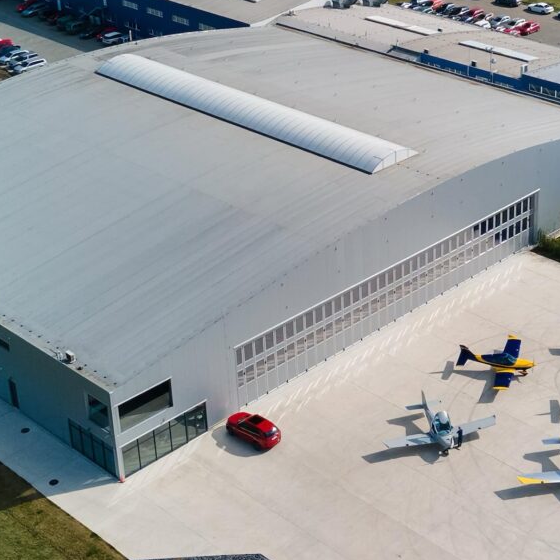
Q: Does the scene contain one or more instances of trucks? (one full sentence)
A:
No, I find no truck anywhere in the image.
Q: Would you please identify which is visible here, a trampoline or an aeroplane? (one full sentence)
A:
The image shows an aeroplane.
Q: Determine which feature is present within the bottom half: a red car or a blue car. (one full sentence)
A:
Visible within the bottom half is a red car.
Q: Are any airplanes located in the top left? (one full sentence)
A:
No, the scene shows no airplane in the top left.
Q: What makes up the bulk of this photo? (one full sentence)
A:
Most of the picture is covered by buildings.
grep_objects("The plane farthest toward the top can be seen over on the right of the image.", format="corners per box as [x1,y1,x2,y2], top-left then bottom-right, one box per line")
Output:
[457,335,537,389]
